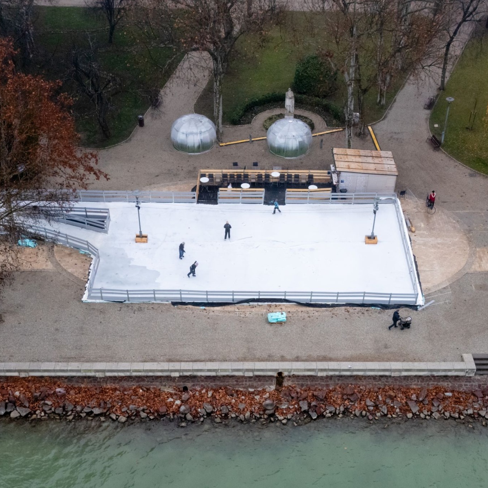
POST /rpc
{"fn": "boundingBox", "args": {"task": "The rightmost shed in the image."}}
[332,147,401,200]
